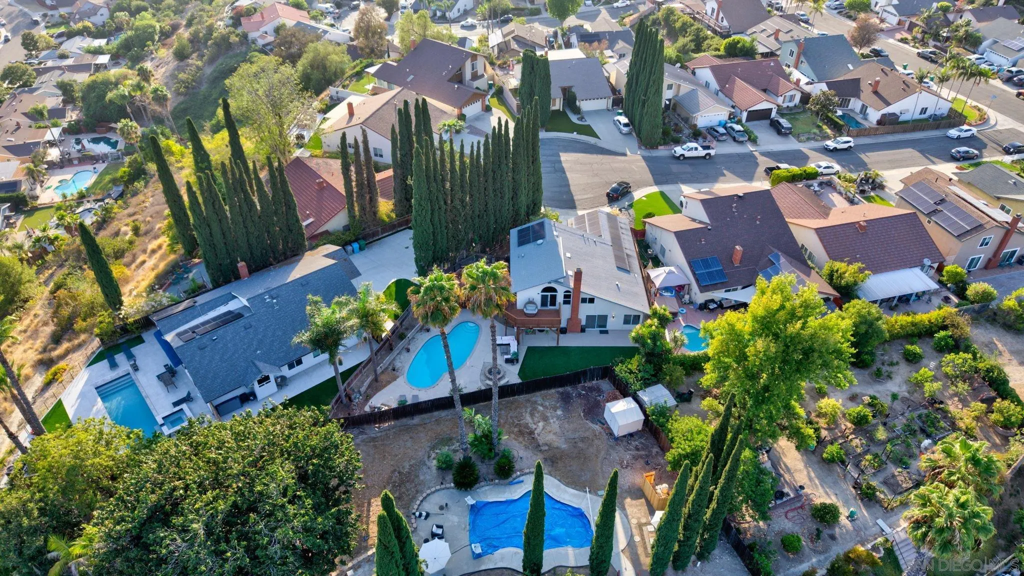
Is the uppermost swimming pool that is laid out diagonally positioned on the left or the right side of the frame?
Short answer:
right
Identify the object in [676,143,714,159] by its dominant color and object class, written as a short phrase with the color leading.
white vehicle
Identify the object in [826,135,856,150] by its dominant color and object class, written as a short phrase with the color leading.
white car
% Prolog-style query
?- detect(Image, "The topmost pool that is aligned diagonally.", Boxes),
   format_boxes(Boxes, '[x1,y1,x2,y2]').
[836,111,869,131]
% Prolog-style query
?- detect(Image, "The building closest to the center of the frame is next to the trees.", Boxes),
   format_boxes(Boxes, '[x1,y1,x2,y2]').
[509,209,650,333]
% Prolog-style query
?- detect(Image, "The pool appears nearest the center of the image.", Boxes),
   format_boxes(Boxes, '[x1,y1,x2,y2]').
[404,318,482,390]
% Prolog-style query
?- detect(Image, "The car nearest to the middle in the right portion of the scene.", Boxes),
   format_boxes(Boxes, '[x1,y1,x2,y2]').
[605,183,633,200]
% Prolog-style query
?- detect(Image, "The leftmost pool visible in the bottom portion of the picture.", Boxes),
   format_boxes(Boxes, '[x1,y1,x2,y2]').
[89,368,167,453]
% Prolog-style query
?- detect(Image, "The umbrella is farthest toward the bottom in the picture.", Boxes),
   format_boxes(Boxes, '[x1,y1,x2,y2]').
[415,547,449,576]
